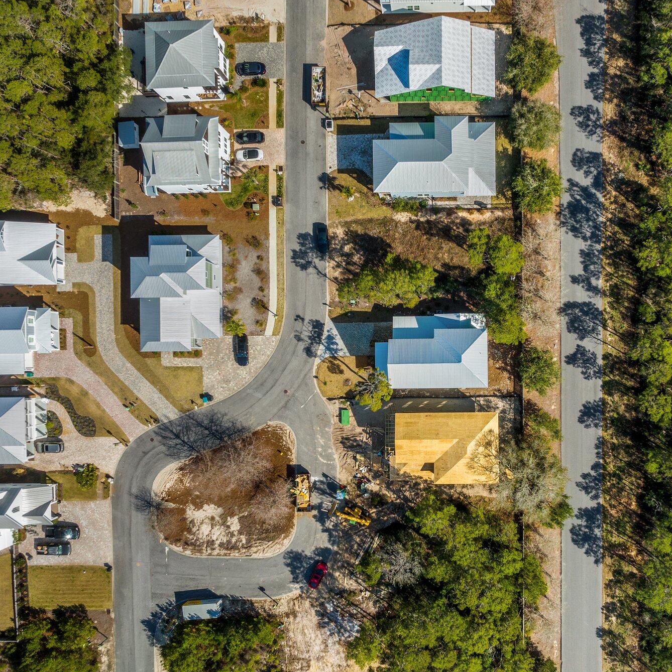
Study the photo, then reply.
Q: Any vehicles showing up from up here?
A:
Yes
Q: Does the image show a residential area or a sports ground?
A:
residential area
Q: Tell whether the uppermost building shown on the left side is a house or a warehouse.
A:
house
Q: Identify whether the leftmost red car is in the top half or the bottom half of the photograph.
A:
bottom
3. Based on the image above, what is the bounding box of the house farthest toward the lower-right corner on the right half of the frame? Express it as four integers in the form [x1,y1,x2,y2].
[386,412,498,484]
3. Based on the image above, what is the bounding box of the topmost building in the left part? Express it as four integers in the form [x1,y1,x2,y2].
[145,19,230,100]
